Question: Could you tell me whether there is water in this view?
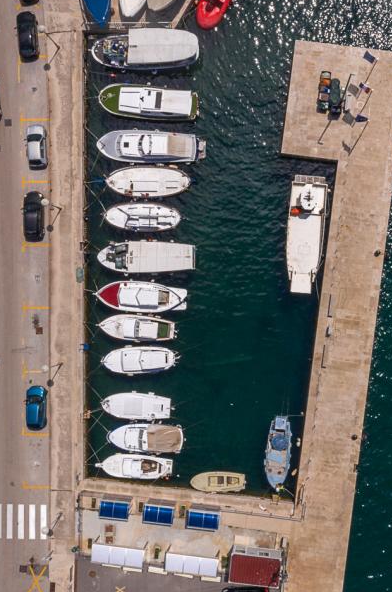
Yes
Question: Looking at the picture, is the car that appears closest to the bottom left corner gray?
No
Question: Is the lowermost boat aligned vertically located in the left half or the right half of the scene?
right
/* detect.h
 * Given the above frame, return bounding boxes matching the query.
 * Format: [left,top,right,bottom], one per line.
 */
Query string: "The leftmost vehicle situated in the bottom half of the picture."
[23,386,48,430]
